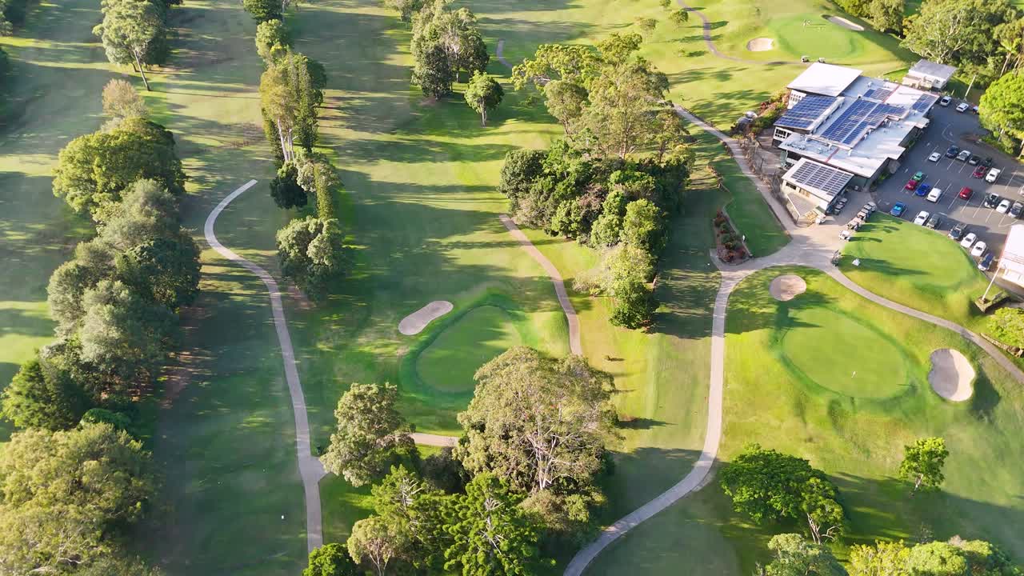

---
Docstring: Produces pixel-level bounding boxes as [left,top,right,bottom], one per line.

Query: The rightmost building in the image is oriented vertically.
[991,225,1024,293]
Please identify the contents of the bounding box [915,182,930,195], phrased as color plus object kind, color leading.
blue vehicle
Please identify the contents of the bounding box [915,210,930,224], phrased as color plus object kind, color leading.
white car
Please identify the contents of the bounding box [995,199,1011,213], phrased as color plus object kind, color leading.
white car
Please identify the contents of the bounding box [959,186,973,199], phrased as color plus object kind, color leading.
red vehicle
